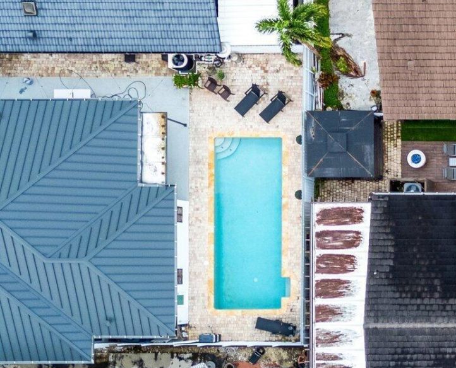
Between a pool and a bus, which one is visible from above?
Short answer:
pool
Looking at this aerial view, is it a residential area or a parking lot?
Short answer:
residential area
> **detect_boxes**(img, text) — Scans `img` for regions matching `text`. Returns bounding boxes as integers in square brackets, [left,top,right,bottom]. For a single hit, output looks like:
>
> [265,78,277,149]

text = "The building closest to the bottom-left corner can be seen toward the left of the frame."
[0,97,188,364]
